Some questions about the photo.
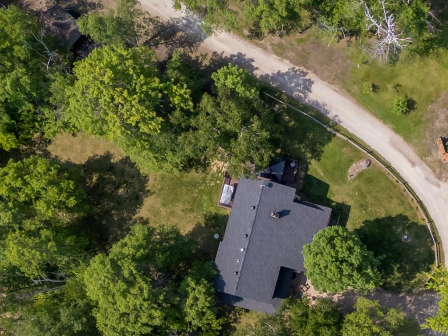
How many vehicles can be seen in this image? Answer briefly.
0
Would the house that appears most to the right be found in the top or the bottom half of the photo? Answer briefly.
bottom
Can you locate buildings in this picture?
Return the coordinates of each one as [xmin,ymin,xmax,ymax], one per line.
[42,3,88,53]
[204,178,336,314]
